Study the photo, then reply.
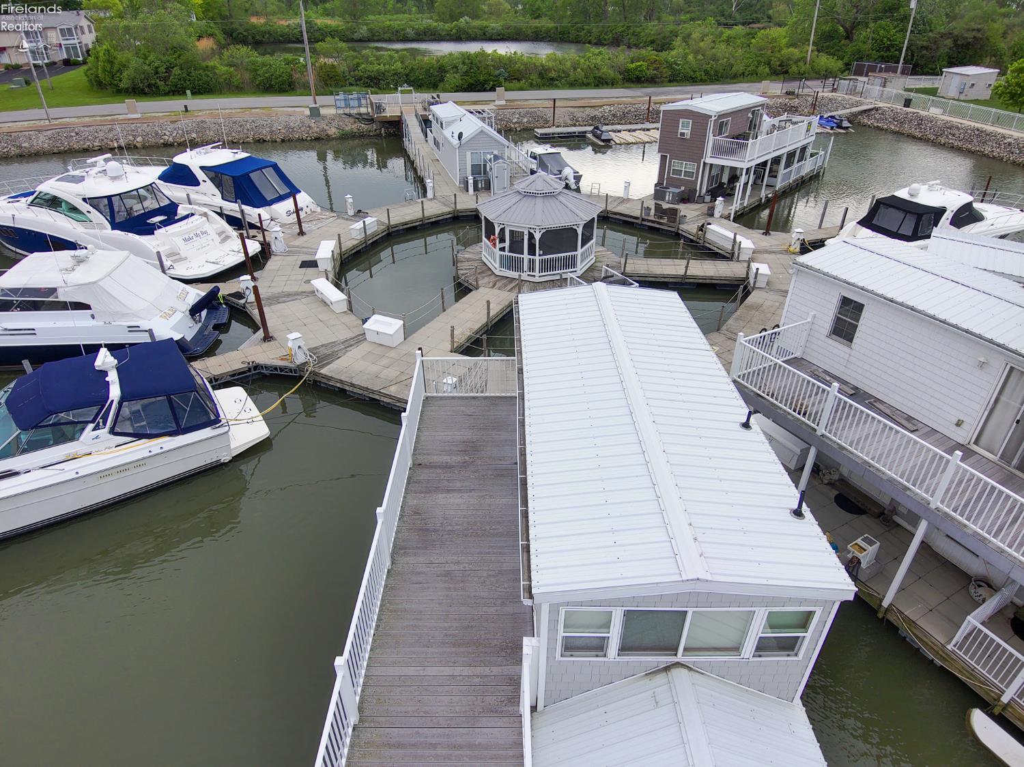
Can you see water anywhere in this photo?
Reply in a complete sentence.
Yes, water shows up in the scene.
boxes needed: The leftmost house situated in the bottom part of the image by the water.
[324,270,857,767]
